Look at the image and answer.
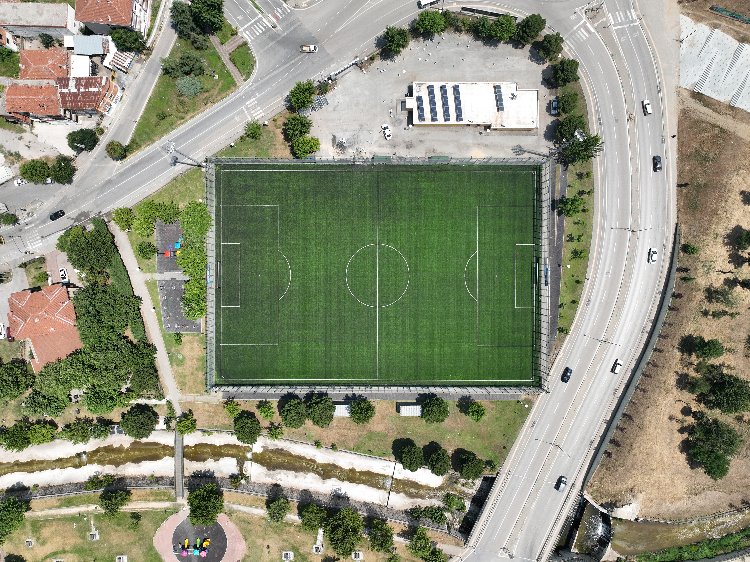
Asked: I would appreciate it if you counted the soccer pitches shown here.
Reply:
1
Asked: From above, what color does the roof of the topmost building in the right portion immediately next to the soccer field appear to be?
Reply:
white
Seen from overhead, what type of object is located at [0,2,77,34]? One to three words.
building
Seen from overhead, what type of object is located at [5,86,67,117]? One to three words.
house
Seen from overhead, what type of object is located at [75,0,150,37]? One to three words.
house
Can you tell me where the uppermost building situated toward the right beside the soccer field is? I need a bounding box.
[412,81,539,132]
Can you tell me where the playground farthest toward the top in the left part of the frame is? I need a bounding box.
[156,212,194,272]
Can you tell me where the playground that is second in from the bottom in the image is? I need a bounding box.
[158,281,202,333]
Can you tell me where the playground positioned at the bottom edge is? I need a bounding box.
[173,517,226,562]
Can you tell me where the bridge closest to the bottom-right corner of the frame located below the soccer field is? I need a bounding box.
[466,448,589,562]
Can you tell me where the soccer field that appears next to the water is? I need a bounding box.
[215,165,542,387]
